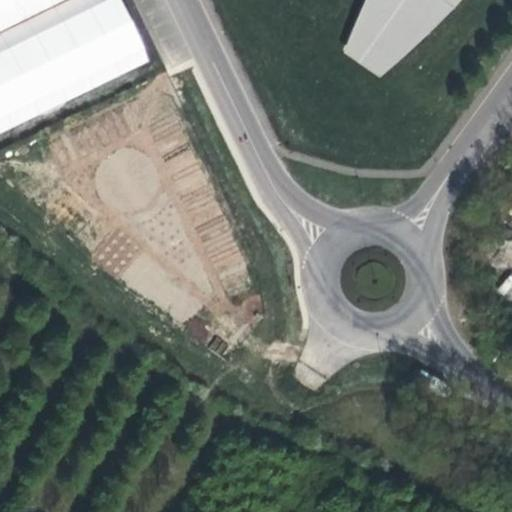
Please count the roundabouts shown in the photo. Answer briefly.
1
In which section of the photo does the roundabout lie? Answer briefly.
right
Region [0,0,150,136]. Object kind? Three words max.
warehouse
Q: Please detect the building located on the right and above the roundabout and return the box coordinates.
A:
[344,0,462,78]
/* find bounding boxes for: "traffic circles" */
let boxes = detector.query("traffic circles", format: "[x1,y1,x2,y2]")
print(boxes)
[302,207,444,351]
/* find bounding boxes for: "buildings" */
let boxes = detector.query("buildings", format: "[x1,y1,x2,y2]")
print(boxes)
[0,0,150,136]
[498,276,512,296]
[344,0,462,78]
